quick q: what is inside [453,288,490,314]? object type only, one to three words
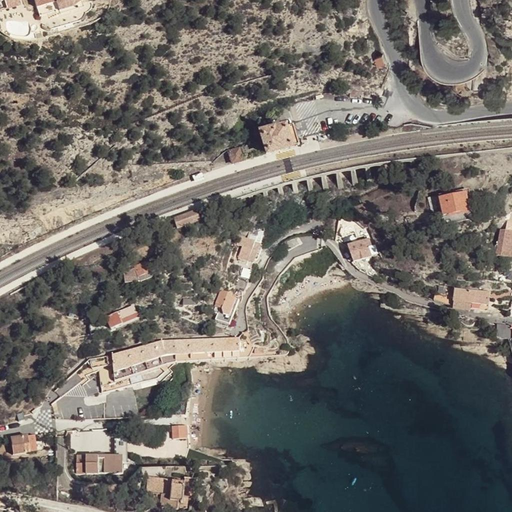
house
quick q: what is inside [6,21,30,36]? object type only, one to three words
swimming pool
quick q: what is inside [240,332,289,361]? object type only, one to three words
building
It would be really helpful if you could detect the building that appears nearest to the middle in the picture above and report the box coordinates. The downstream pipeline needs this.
[238,230,263,282]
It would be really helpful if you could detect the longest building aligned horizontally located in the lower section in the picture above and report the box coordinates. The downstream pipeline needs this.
[82,338,241,390]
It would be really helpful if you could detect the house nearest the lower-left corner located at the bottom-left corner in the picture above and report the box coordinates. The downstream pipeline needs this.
[10,434,38,456]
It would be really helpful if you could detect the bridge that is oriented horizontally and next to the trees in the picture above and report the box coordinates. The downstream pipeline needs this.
[220,146,512,200]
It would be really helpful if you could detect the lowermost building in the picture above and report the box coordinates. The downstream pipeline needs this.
[147,476,191,510]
